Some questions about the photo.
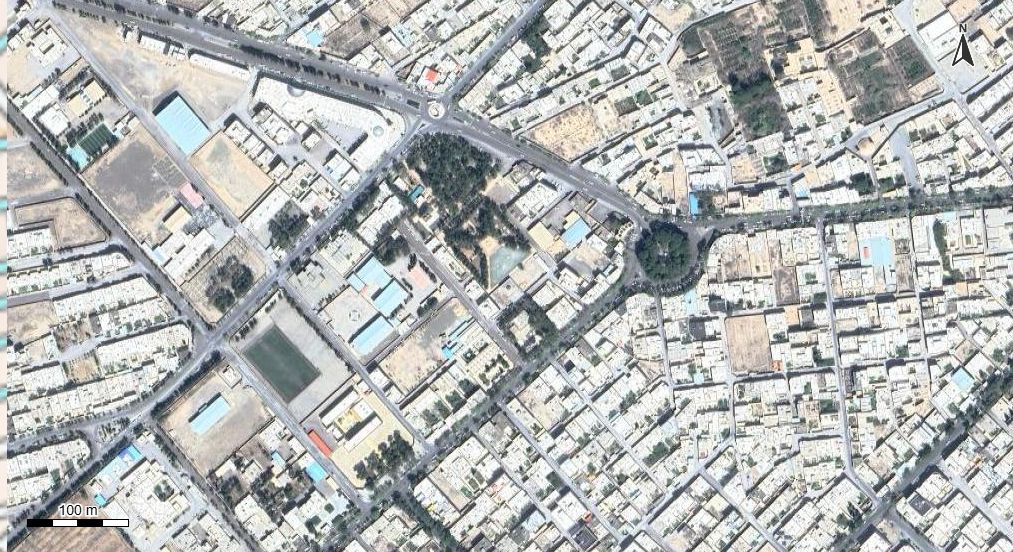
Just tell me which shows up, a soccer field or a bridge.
soccer field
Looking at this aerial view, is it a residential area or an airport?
residential area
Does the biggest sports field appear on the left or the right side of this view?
left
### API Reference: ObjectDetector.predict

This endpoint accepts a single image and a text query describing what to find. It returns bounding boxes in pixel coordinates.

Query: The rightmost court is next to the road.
[409,264,433,294]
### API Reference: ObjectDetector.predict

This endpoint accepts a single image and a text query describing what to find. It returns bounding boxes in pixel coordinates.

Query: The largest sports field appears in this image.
[230,289,351,428]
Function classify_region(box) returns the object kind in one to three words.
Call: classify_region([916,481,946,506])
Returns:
house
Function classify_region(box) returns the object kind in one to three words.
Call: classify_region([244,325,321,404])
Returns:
soccer field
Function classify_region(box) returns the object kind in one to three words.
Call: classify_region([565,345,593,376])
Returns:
house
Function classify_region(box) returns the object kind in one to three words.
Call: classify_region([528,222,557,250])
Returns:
building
